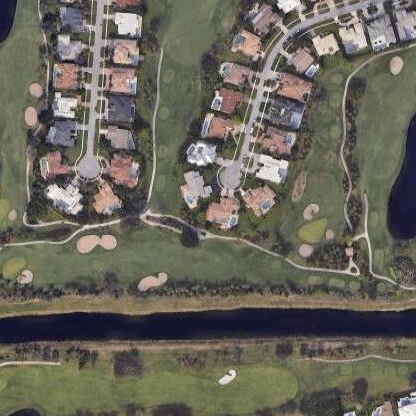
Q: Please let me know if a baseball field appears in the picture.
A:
No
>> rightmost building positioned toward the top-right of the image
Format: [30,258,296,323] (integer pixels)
[395,8,416,39]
